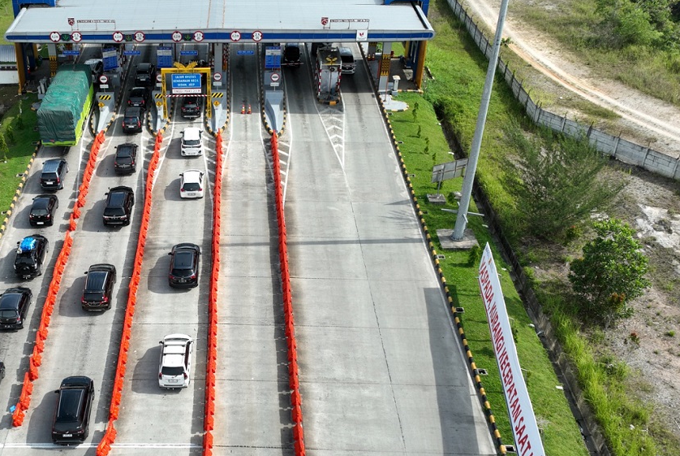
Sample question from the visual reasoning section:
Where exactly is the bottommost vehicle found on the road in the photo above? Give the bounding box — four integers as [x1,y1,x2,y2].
[51,377,95,444]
